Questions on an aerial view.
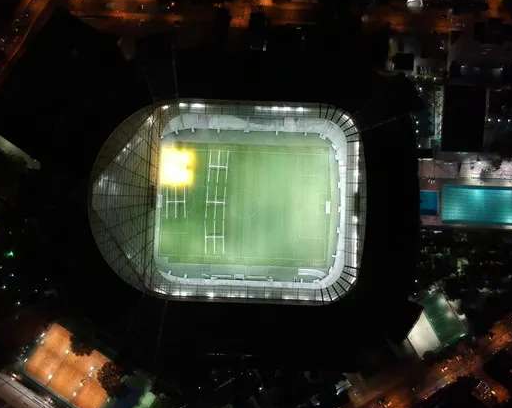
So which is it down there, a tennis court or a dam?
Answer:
tennis court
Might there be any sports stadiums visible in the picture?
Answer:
Yes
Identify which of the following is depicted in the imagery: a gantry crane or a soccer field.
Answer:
soccer field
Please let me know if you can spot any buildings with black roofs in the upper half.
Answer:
Yes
